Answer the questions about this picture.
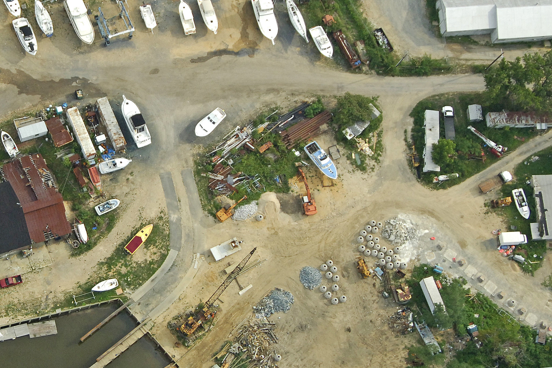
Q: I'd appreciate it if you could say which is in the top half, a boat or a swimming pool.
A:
boat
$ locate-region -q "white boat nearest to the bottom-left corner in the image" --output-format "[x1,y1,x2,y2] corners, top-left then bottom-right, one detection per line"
[92,278,119,295]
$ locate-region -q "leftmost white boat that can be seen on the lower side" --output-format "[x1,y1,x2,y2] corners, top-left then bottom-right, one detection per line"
[75,223,89,243]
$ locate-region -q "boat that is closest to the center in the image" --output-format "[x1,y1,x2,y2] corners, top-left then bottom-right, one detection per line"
[304,141,337,179]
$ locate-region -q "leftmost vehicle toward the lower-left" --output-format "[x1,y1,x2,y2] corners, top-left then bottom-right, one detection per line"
[0,273,24,288]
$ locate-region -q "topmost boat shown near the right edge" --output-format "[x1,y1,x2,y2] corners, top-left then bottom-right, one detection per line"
[511,188,529,218]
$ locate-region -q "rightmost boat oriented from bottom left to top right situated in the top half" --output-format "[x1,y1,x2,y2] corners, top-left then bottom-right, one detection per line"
[195,106,228,136]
